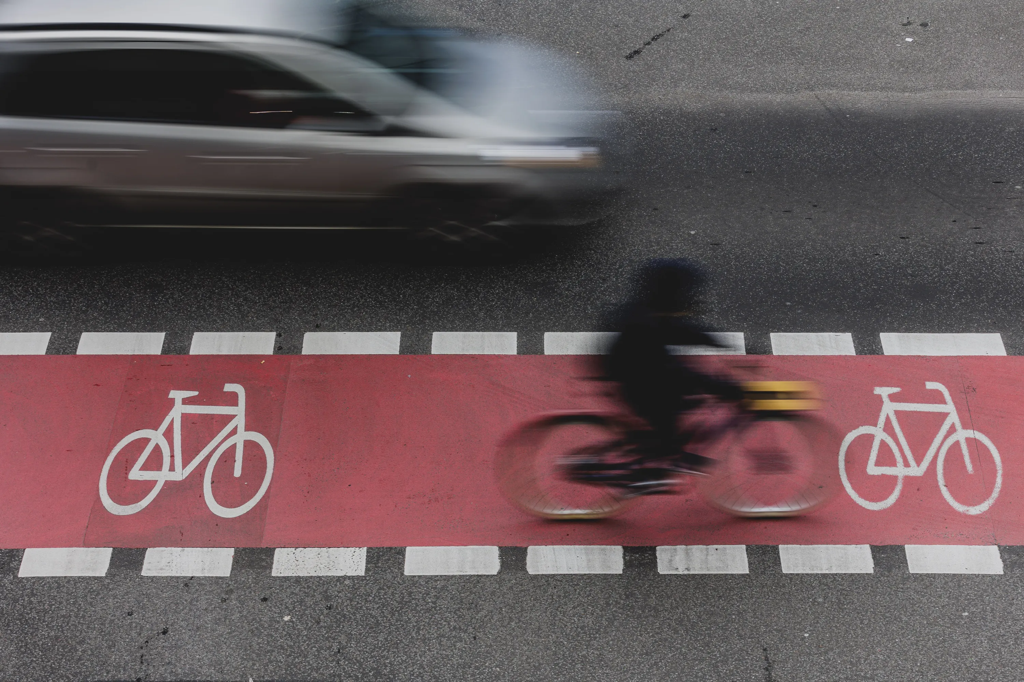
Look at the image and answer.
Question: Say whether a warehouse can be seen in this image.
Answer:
No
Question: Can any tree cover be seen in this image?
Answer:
No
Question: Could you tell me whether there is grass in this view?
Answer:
No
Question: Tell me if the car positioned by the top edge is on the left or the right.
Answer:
left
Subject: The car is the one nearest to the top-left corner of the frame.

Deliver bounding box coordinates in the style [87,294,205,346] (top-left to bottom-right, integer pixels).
[0,0,605,268]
